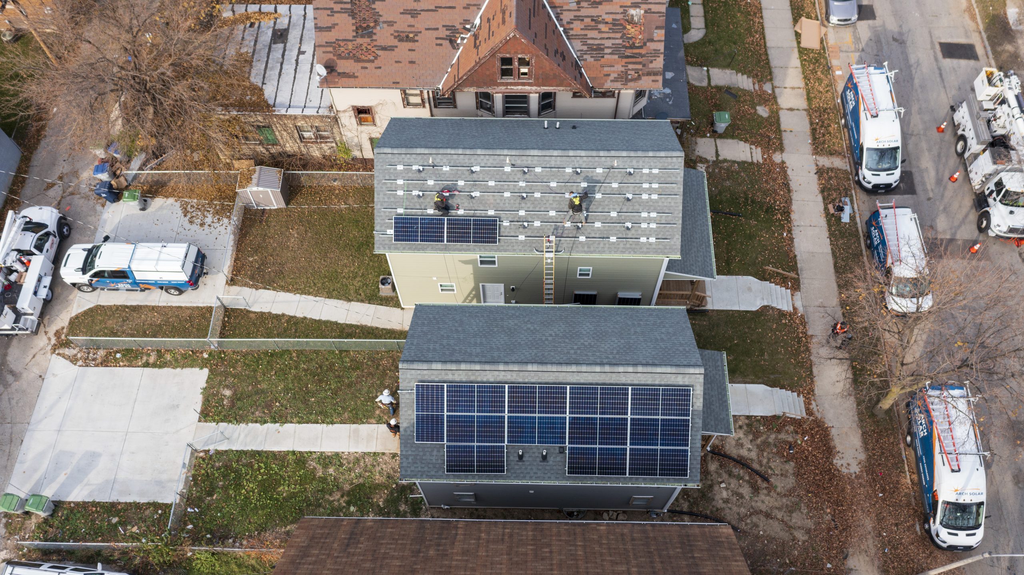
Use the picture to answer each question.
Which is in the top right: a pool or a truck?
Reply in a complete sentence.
Visible in the top right is a truck.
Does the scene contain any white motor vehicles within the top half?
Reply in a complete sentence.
Yes, within the top half there is a white motor vehicle.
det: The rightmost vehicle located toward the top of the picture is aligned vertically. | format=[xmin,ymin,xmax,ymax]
[940,41,1024,248]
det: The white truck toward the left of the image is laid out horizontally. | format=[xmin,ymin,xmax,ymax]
[55,233,205,293]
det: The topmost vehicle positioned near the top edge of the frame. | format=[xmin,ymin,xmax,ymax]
[825,0,861,21]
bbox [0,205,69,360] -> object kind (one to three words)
truck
